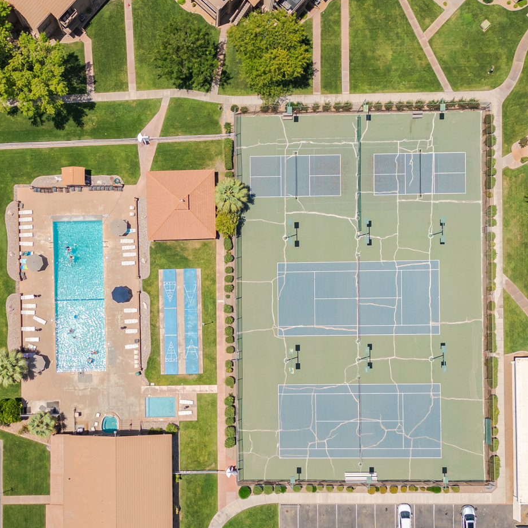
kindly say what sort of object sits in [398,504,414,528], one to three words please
car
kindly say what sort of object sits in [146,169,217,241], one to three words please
building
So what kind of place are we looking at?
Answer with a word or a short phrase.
sports ground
